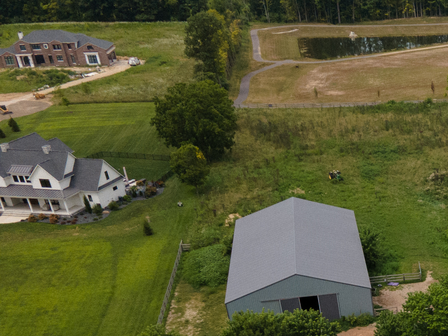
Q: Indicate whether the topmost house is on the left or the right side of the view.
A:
left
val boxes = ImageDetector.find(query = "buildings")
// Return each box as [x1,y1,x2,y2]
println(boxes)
[0,129,126,218]
[0,25,127,68]
[225,197,374,332]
